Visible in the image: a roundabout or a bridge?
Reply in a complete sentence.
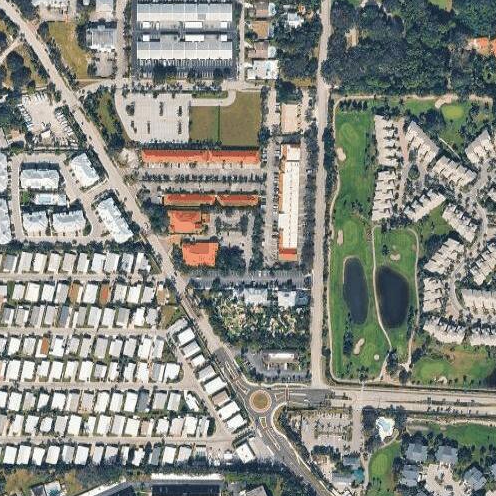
Of the two, only a roundabout appears.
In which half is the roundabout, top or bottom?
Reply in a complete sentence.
The bottom half of the photo is where the roundabout is.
